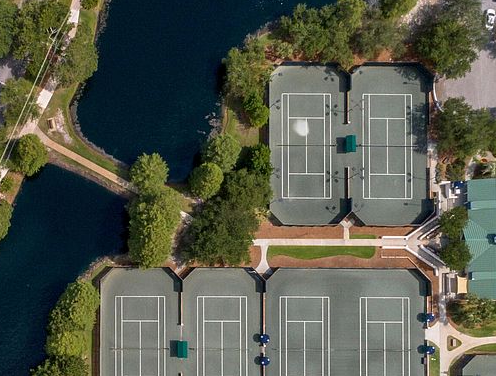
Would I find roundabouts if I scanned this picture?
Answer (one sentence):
No, the scene contains no roundabout.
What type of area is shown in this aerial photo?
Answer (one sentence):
The picture captures a sports ground.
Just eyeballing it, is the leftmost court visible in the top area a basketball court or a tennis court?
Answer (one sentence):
Looking closely, the leftmost court visible in the top area is a tennis court.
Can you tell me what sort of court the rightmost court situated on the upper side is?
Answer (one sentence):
The rightmost court situated on the upper side is a tennis court.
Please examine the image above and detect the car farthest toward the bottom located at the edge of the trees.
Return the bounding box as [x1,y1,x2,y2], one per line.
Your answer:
[484,9,496,31]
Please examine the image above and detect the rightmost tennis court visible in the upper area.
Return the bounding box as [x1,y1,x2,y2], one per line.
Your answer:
[350,67,429,223]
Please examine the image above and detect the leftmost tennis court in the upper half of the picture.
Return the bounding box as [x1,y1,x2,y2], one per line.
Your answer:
[275,66,350,222]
